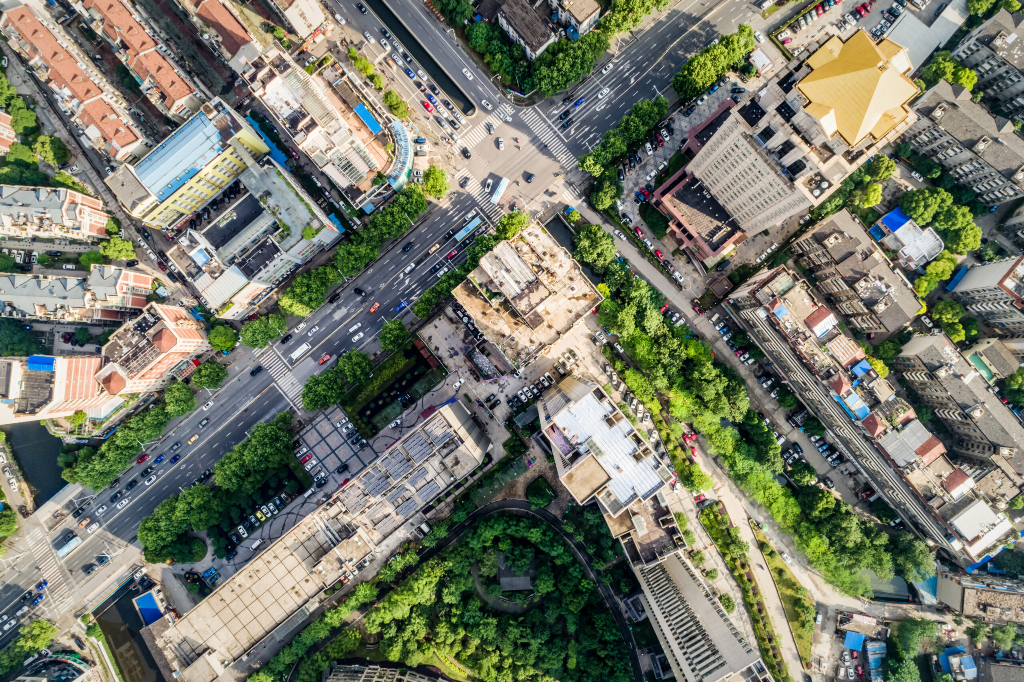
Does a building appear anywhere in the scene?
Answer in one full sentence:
Yes, this view includes a building.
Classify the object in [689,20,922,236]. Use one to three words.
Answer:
building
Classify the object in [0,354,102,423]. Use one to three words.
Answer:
building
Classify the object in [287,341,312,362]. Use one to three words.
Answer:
bus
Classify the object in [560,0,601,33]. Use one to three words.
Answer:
house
